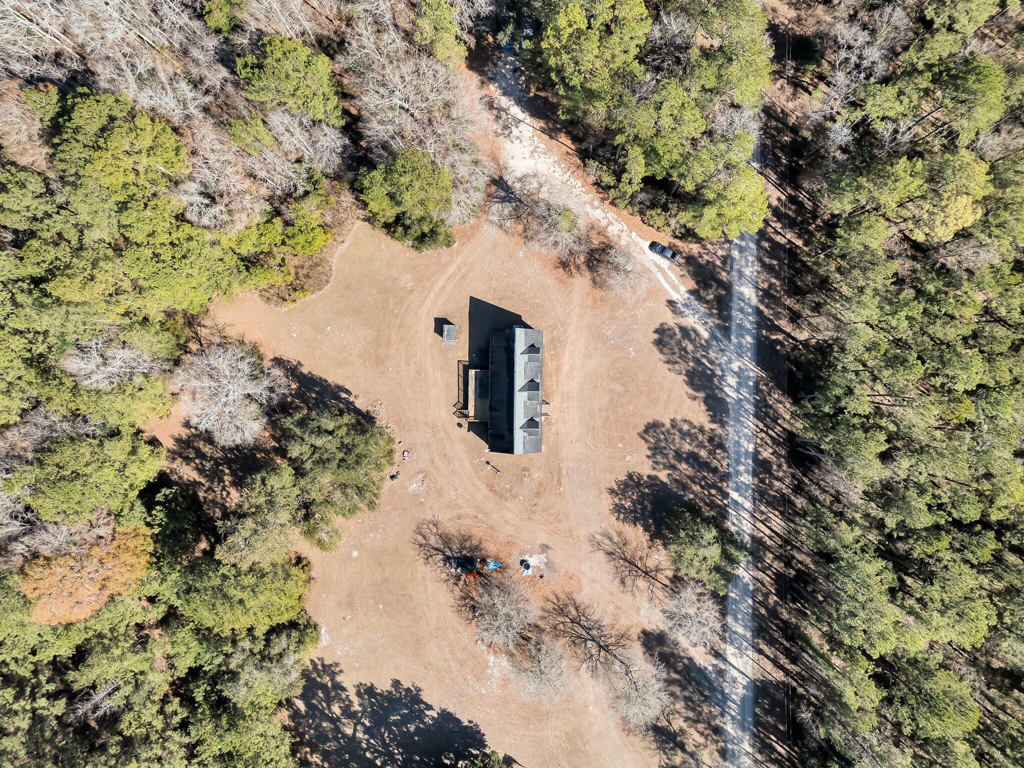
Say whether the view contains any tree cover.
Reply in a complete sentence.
Yes, there's tree cover in this view.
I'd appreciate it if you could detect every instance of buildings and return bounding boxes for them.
[458,327,553,454]
[442,324,455,341]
